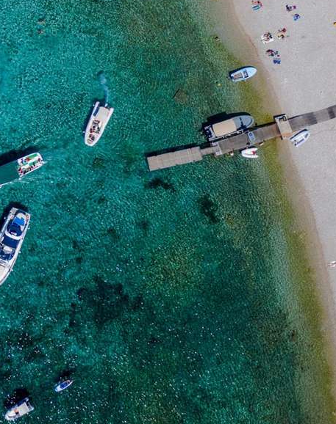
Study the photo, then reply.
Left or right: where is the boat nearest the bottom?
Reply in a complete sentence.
The boat nearest the bottom sits on the left side.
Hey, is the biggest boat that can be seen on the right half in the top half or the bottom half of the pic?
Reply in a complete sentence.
The biggest boat that can be seen on the right half sits in the top half of the picture.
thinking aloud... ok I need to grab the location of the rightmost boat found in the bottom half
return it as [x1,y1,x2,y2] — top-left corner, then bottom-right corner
[55,379,73,392]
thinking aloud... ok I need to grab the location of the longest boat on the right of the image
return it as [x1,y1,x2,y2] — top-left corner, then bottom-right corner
[203,114,254,141]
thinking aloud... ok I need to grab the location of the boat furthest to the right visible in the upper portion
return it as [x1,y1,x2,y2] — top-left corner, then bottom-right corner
[289,131,309,148]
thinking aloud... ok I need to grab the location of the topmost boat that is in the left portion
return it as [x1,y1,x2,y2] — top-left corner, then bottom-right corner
[83,101,113,146]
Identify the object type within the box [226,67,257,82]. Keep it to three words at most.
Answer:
boat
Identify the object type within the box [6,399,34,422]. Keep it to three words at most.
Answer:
boat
